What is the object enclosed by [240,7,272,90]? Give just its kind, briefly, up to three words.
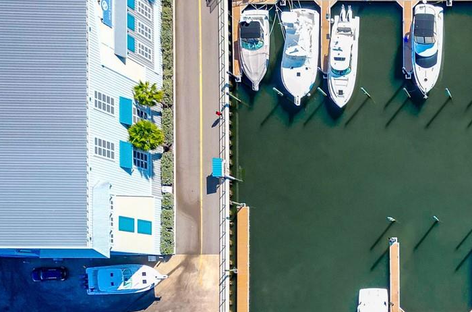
boat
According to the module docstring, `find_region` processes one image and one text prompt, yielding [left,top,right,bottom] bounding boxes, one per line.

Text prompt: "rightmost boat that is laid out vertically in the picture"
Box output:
[411,2,445,100]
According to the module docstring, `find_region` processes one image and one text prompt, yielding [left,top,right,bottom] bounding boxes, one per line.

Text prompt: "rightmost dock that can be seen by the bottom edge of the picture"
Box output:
[390,241,406,312]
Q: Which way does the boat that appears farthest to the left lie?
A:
from left to right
